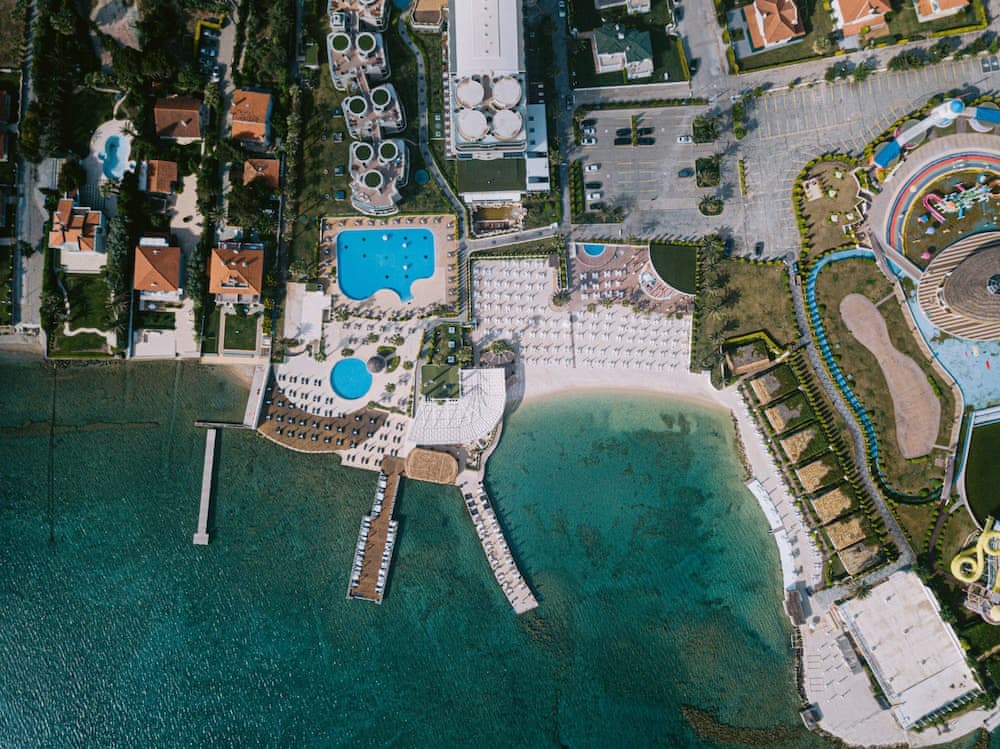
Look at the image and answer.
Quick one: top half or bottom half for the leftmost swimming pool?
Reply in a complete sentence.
It is in the top half that the leftmost swimming pool appears.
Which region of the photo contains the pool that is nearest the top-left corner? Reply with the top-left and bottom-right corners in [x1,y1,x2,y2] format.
[101,133,129,178]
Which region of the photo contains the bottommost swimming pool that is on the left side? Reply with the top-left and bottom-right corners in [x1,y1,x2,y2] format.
[328,355,374,401]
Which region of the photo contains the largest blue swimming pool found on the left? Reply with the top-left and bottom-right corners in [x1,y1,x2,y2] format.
[334,226,438,303]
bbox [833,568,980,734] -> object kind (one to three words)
building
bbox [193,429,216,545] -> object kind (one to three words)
pier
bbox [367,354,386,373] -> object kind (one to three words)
umbrella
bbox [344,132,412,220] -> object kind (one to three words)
house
